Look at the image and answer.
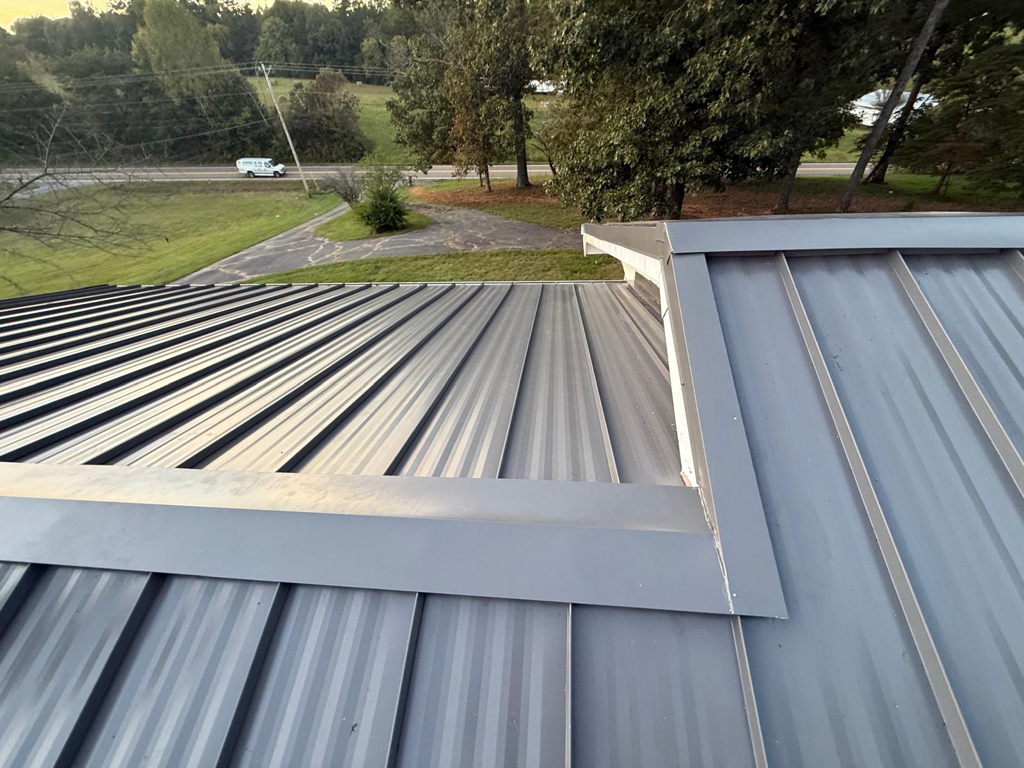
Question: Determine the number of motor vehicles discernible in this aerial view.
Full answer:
I count 1 motor vehicle.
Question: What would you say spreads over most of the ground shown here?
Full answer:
For the most part, this view shows buildings.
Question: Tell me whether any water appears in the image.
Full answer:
No, there is no water in the image.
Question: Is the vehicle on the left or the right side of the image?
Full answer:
You can find the vehicle on the left side of the picture.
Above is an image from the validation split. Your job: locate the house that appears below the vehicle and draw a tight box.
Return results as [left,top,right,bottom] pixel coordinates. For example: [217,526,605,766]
[0,209,1024,768]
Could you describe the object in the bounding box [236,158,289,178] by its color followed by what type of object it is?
white vehicle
